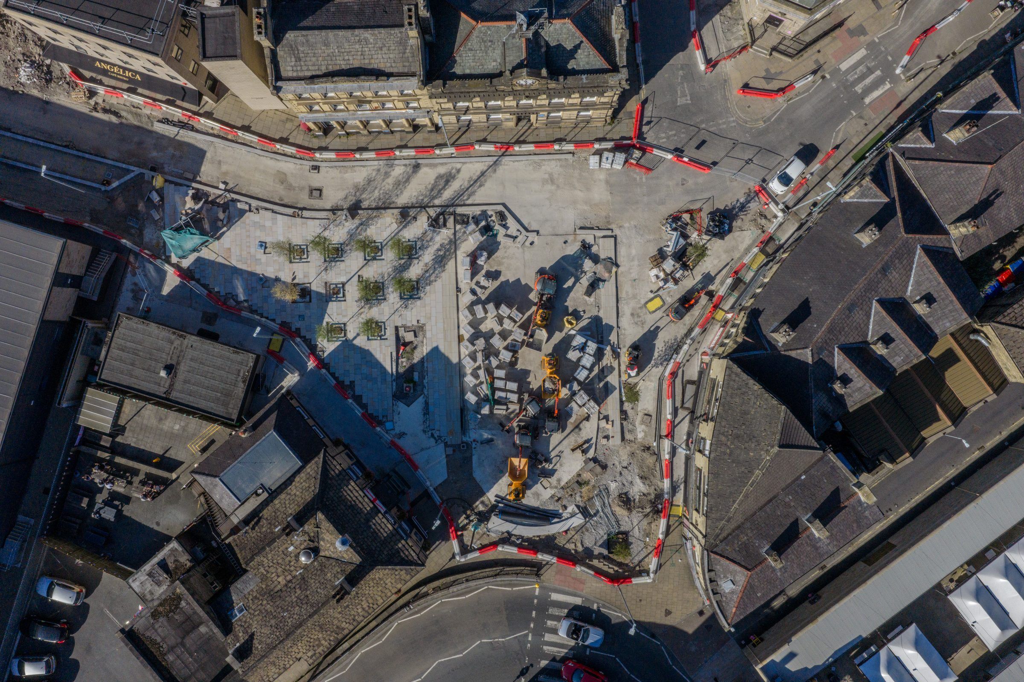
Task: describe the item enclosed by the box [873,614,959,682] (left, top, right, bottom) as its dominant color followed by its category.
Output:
white tent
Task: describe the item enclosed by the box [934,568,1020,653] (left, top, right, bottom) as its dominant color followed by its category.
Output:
white tent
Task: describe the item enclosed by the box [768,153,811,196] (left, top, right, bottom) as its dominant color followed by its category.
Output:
white car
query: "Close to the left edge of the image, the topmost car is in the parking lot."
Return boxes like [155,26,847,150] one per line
[37,574,88,605]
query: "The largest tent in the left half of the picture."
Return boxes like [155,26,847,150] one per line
[158,213,217,257]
